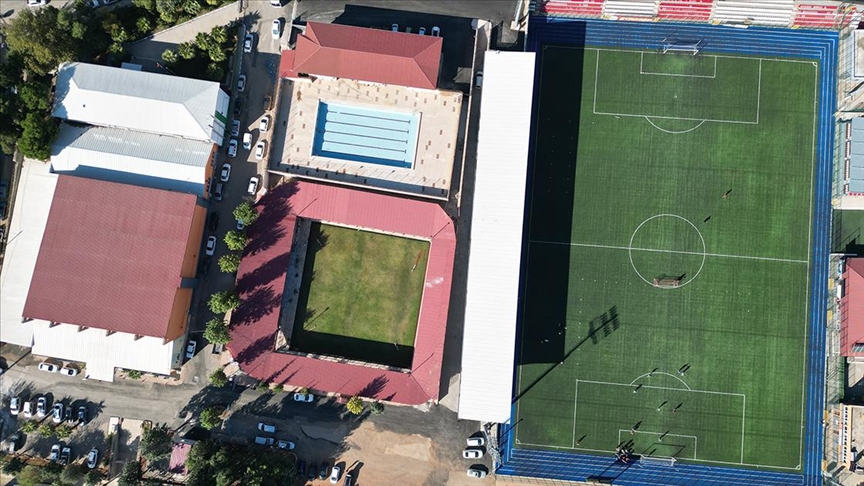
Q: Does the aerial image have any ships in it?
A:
No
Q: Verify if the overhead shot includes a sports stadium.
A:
Yes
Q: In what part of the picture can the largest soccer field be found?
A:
right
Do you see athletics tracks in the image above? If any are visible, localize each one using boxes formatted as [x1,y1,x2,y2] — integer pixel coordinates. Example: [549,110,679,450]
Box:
[496,18,839,486]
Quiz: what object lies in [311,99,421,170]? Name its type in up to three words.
swimming pool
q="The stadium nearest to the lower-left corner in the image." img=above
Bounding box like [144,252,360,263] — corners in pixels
[227,179,456,404]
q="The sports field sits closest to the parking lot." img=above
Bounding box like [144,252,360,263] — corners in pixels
[284,221,430,368]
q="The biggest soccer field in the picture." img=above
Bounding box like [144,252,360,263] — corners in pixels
[511,43,821,474]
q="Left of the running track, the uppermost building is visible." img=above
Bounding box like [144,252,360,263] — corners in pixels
[280,21,442,90]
